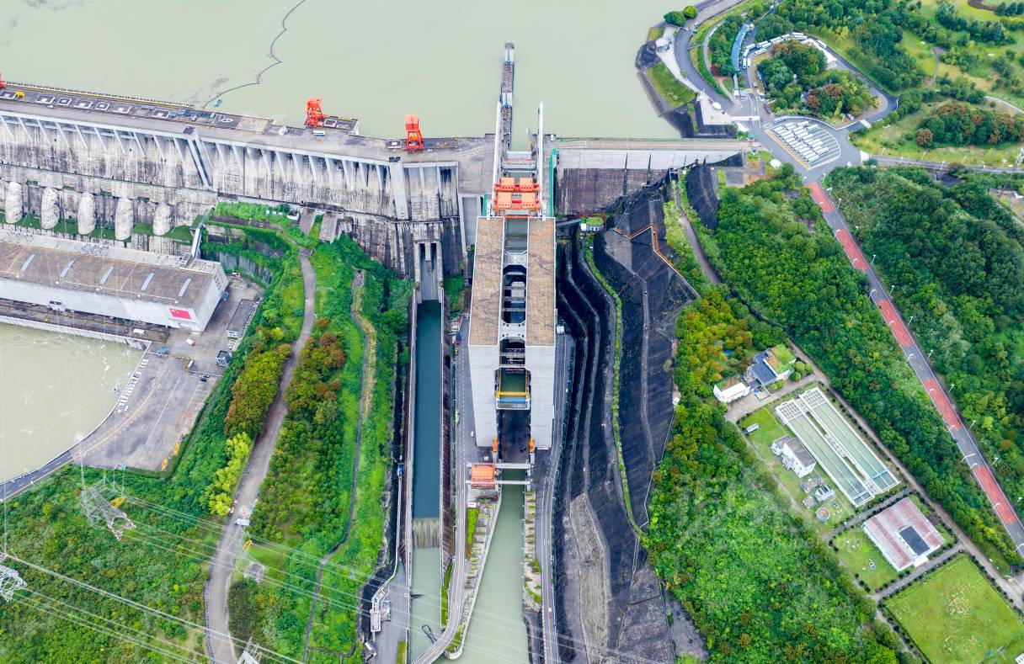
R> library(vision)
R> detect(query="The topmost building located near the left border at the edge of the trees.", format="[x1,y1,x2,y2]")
[0,231,230,332]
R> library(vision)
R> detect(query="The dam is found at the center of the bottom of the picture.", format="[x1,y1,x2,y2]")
[412,518,442,546]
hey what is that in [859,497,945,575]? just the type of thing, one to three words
building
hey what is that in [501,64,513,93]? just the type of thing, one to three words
pier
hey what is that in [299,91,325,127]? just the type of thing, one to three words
container crane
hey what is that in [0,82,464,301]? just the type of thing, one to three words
dam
